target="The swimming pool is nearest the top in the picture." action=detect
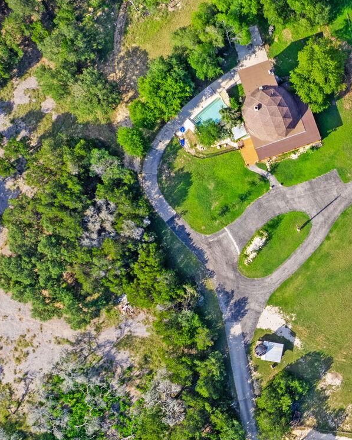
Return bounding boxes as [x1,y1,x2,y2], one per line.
[186,91,234,132]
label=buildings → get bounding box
[260,340,286,362]
[238,60,323,164]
